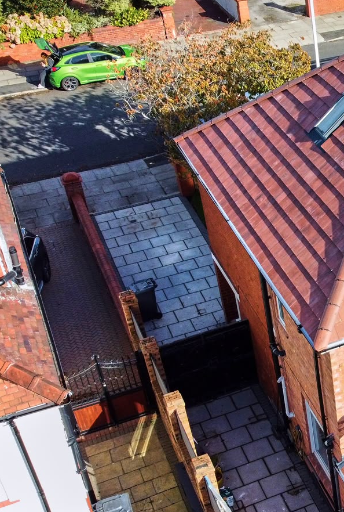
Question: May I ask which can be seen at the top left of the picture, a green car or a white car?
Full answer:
The one visible at the top left of the picture is a green car.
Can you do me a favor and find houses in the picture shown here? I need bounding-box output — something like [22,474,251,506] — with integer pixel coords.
[170,50,344,512]
[0,161,114,512]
